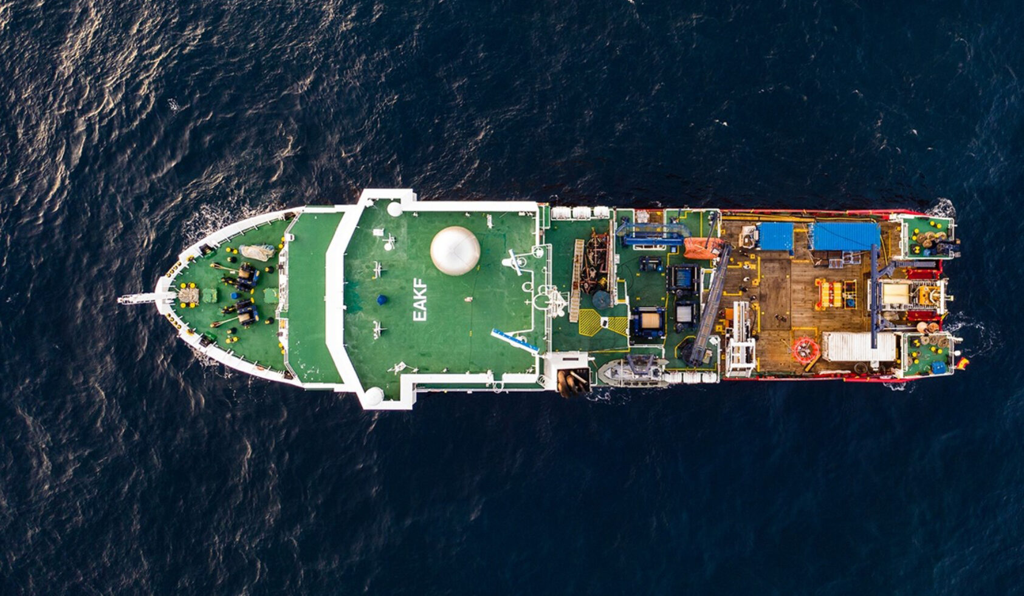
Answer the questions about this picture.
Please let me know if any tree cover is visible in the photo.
No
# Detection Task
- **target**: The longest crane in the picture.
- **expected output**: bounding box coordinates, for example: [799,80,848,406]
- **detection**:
[674,240,736,371]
